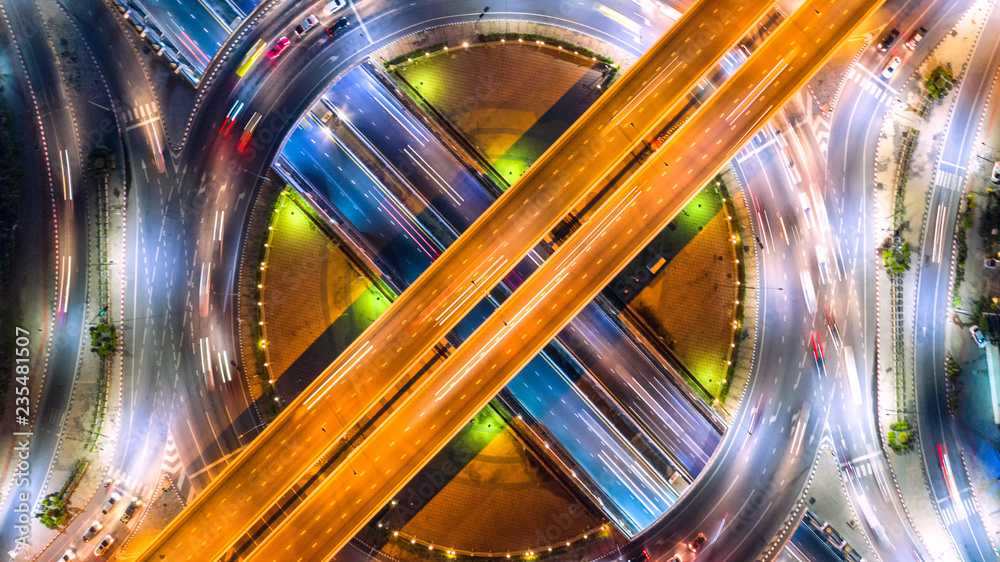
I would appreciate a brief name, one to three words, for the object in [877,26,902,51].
truck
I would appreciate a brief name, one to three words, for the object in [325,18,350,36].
car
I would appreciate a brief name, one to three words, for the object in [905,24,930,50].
truck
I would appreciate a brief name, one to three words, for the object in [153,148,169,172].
car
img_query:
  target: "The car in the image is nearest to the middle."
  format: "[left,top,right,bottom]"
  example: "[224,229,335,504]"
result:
[505,266,524,286]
